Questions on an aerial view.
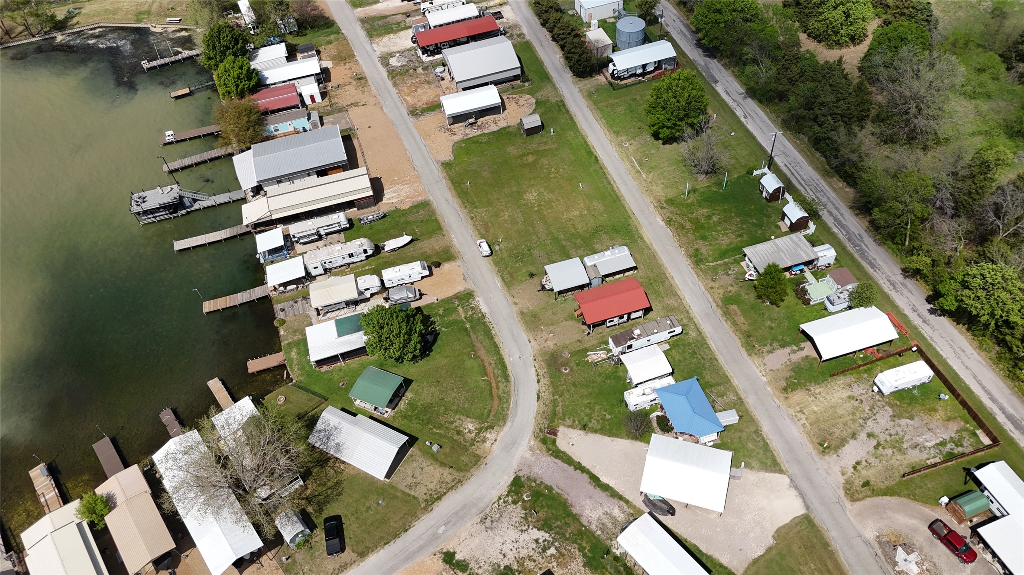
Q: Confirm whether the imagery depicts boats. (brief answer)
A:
Yes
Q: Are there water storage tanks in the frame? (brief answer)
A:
Yes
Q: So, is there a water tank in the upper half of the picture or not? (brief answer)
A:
Yes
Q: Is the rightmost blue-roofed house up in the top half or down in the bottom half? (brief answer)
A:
bottom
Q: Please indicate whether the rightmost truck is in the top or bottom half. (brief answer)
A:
bottom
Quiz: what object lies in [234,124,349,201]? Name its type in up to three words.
barn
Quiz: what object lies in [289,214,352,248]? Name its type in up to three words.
camper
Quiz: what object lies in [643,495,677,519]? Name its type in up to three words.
boat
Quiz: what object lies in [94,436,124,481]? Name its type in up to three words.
pier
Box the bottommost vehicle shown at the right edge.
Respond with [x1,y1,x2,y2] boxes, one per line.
[926,518,978,568]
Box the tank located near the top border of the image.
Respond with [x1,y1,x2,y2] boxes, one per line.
[612,11,645,49]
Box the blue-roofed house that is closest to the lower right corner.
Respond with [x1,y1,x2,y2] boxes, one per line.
[656,376,724,446]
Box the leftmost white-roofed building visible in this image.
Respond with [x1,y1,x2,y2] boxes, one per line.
[22,503,103,575]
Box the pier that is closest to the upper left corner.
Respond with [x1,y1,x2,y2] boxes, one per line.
[143,48,200,71]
